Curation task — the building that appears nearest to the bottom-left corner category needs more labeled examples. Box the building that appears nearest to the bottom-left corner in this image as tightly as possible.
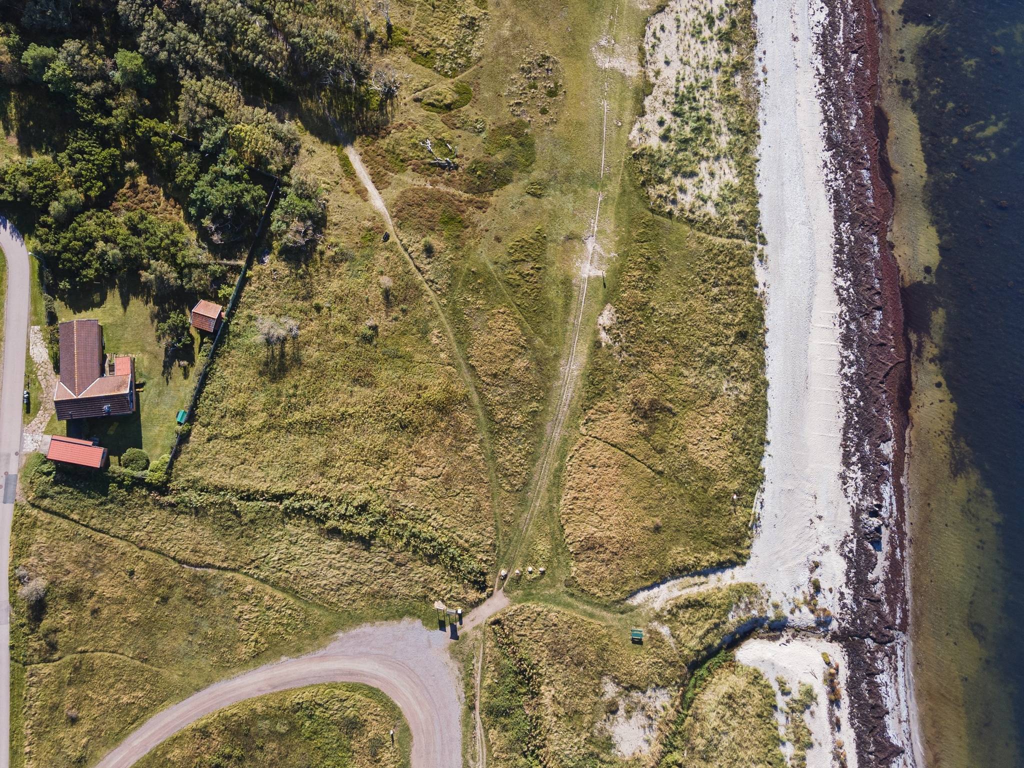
[46,435,111,468]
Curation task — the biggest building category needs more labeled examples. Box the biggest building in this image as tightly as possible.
[53,319,140,420]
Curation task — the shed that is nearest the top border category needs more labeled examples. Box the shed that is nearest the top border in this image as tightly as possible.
[191,300,224,332]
